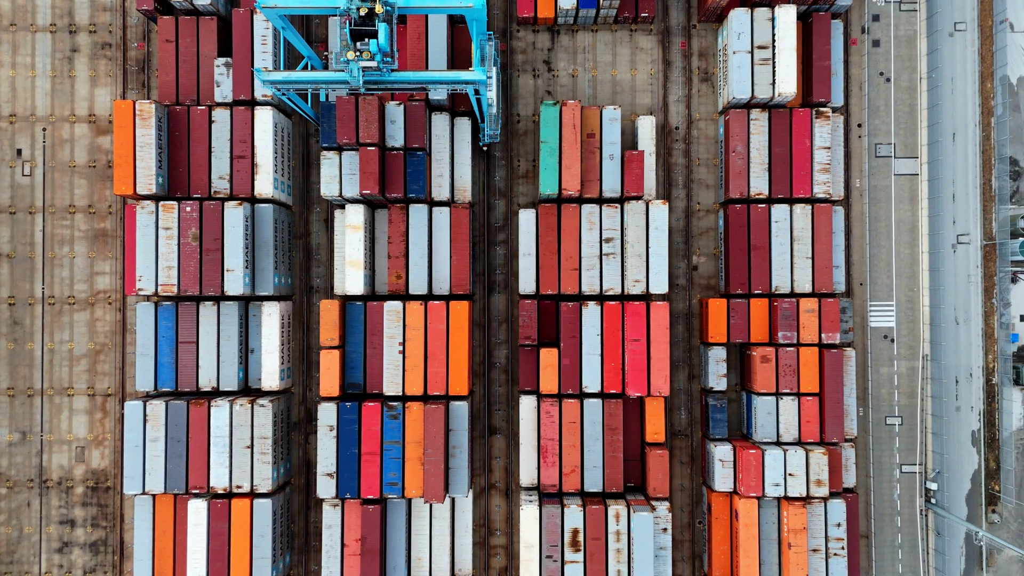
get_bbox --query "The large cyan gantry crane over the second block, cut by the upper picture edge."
[253,0,500,147]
